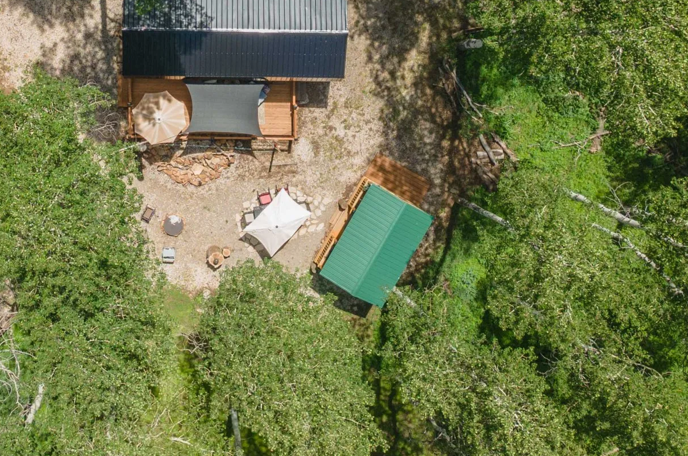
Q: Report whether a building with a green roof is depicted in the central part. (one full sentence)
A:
Yes, a building with a green roof can be seen in the central part.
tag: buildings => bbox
[121,0,349,85]
[319,183,434,308]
